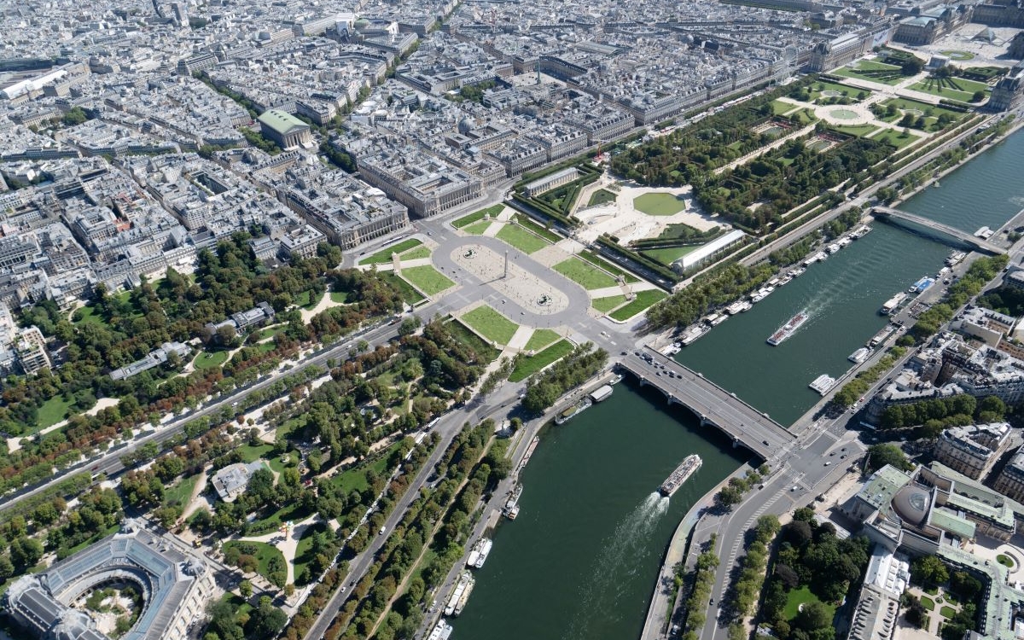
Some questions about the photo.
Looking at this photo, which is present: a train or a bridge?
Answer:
bridge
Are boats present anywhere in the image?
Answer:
Yes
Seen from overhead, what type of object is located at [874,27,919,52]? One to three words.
building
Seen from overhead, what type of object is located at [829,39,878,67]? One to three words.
building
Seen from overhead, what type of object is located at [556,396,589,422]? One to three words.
boat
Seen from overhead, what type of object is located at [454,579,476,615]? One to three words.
boat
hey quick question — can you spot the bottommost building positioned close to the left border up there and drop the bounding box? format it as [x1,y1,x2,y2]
[9,520,213,640]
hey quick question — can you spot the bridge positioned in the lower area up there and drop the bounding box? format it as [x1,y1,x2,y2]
[615,343,800,465]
